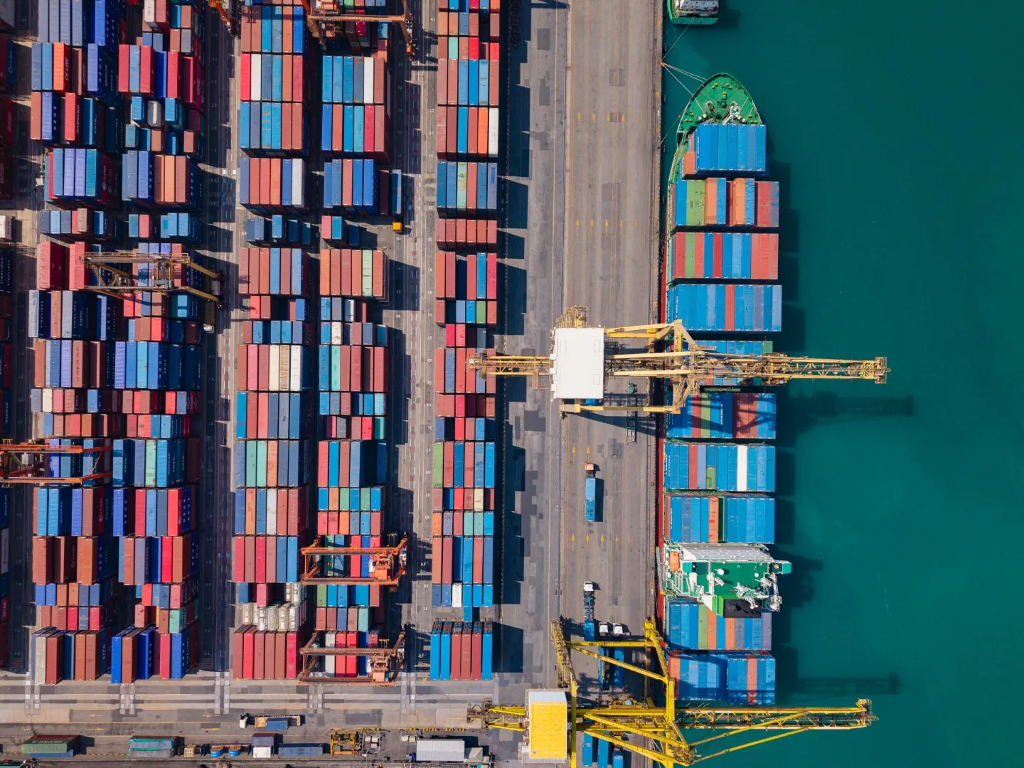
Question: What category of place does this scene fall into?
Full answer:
What you see here is a port.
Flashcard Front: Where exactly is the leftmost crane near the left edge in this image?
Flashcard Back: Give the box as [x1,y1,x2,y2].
[0,433,127,486]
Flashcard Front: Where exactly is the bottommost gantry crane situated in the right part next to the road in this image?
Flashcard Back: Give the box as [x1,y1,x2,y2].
[467,614,884,768]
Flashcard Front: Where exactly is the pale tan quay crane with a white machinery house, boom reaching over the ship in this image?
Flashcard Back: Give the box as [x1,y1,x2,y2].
[472,309,897,419]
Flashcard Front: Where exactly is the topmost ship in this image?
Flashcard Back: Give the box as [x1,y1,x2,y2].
[668,0,722,22]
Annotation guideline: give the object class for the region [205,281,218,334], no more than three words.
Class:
vehicle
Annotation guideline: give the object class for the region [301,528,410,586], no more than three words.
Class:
container crane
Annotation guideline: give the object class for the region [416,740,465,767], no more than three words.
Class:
shed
